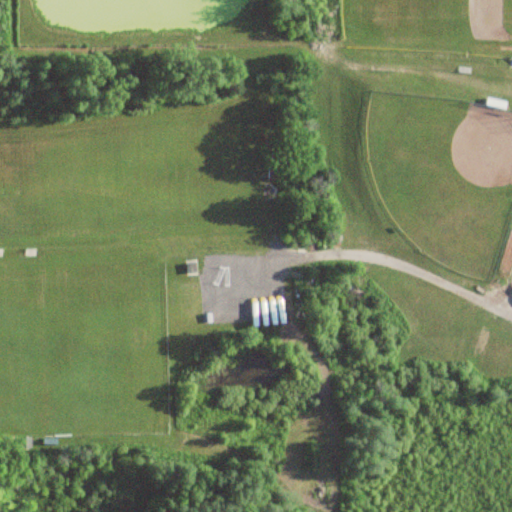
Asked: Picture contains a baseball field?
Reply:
Yes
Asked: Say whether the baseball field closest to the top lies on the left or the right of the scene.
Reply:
right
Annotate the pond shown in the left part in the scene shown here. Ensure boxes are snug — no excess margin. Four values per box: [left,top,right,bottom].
[34,0,243,34]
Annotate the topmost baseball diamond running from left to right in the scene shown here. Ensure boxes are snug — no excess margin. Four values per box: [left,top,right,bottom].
[344,0,512,60]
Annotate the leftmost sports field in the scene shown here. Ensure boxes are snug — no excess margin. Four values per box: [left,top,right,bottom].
[0,246,168,436]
